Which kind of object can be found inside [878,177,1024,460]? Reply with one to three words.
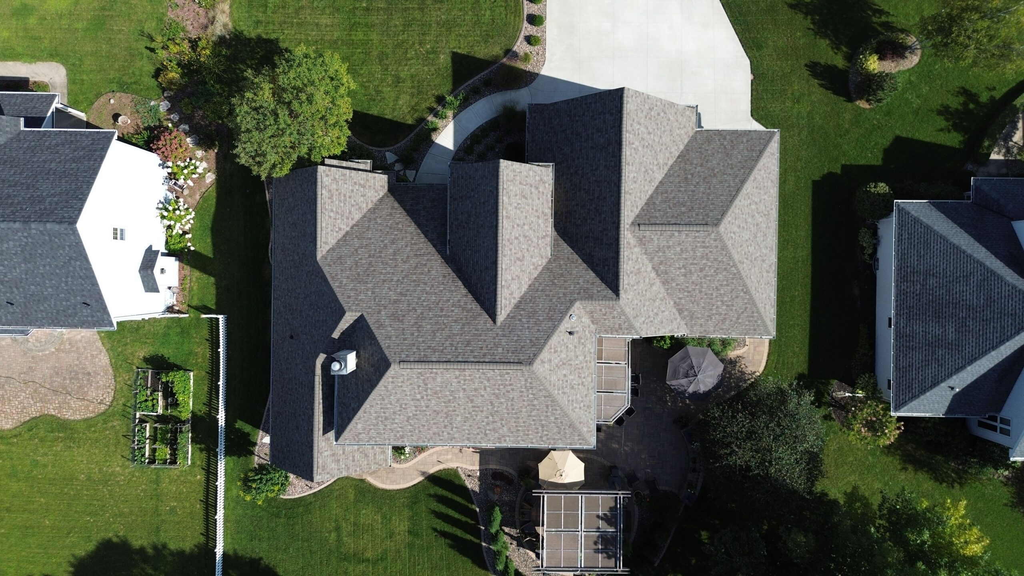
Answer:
house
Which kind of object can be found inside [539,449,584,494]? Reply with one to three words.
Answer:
umbrella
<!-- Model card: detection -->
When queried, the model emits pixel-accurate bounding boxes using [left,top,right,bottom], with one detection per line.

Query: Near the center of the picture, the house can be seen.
[268,88,781,482]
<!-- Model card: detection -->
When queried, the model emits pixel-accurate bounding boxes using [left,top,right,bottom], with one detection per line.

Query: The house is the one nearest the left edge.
[0,91,178,337]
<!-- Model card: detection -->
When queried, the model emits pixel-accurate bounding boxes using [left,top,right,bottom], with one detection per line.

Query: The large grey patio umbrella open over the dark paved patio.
[668,346,723,402]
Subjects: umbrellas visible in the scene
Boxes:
[668,346,723,402]
[539,449,584,494]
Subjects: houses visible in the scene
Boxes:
[268,88,781,482]
[0,91,178,337]
[878,177,1024,460]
